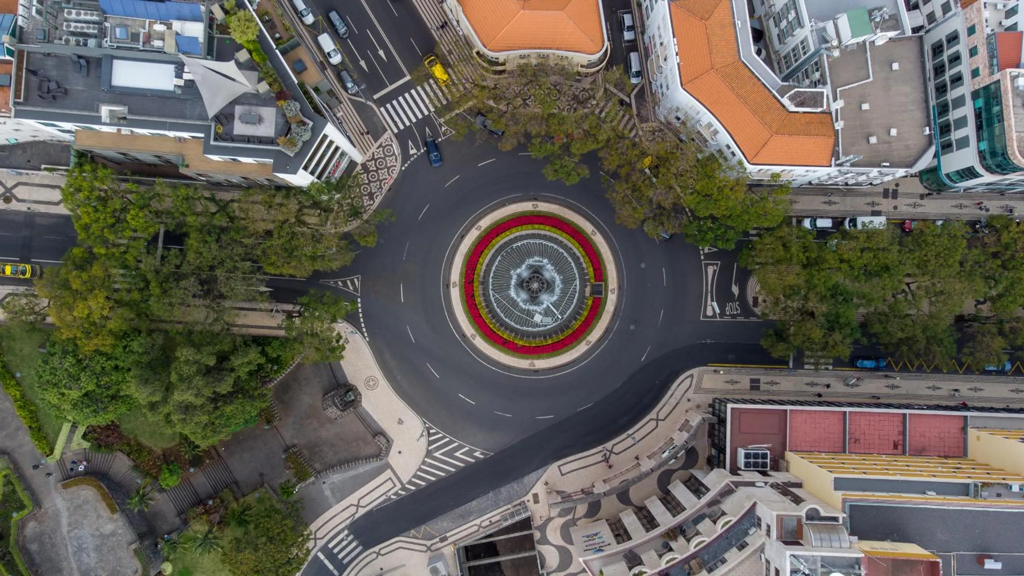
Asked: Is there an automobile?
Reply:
Yes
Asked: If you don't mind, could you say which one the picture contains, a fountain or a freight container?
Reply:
fountain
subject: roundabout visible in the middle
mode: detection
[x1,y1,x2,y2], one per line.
[401,153,666,417]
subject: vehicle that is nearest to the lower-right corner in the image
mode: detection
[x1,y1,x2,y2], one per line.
[981,359,1014,375]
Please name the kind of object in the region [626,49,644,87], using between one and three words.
vehicle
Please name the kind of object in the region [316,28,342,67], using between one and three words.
vehicle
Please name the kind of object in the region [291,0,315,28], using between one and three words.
car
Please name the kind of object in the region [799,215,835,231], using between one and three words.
car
